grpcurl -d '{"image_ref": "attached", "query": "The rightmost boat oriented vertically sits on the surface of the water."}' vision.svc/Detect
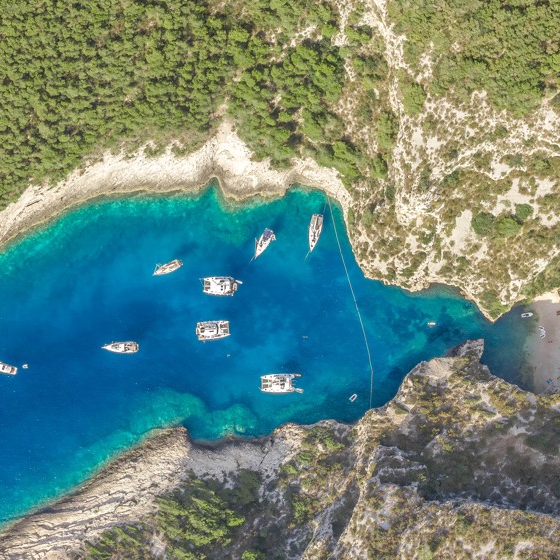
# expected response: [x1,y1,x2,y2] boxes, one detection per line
[306,214,323,259]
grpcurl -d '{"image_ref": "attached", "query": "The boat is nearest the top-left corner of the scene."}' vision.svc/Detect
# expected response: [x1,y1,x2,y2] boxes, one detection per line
[155,259,184,275]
